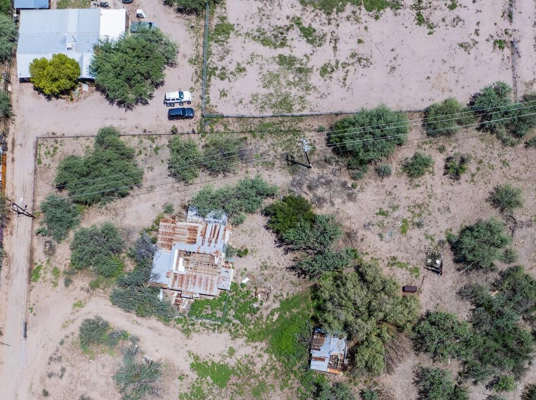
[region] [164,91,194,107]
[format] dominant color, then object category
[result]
white car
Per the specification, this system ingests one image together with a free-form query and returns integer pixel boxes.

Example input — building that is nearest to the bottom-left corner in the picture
[151,206,233,307]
